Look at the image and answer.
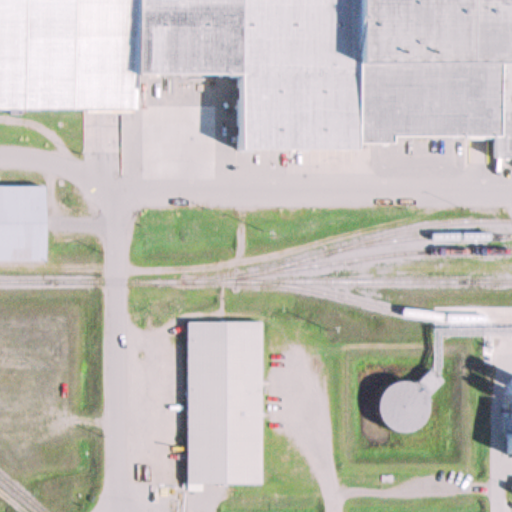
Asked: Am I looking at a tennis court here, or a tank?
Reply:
tank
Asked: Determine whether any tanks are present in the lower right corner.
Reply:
Yes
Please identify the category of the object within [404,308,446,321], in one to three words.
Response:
rail car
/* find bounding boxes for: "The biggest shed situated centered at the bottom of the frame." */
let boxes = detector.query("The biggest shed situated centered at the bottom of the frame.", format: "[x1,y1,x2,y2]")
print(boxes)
[186,322,264,484]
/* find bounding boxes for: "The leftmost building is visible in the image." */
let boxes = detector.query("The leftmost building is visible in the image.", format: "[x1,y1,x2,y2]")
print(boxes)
[0,185,47,262]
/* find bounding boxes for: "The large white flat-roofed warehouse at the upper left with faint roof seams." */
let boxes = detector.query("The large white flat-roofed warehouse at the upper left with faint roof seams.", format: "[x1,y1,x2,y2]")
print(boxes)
[0,0,139,114]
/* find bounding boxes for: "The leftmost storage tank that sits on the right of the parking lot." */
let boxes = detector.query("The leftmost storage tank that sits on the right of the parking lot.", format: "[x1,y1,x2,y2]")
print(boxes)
[376,381,430,433]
